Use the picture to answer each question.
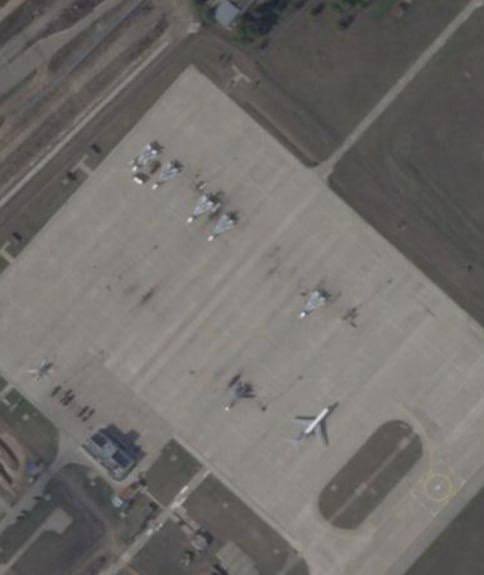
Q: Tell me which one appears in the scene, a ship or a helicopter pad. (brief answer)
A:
helicopter pad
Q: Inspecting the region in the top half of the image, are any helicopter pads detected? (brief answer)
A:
No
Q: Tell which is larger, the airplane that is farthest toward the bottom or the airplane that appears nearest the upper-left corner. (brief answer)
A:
the airplane that is farthest toward the bottom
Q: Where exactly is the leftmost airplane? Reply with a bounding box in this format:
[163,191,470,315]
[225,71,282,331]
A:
[134,143,158,169]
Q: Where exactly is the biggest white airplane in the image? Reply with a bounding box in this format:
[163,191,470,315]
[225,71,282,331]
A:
[291,407,331,446]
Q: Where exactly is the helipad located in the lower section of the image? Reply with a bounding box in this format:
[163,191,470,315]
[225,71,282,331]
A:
[409,457,464,515]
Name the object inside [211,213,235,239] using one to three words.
airplane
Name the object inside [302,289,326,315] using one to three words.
airplane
